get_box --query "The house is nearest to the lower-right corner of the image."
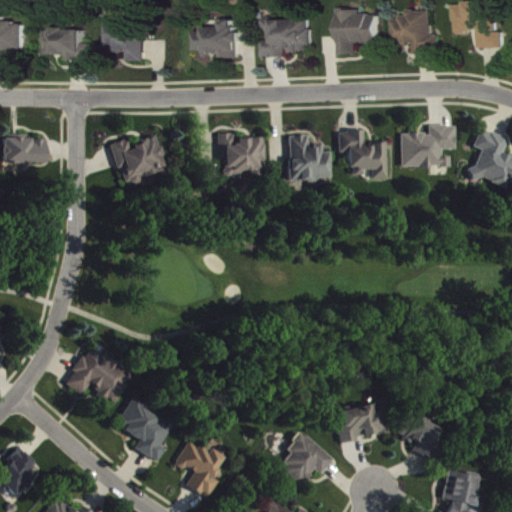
[444,469,486,512]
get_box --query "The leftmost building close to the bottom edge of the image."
[0,442,44,503]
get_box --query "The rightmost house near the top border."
[445,1,502,48]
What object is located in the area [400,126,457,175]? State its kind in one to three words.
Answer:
house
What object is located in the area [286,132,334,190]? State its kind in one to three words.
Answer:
house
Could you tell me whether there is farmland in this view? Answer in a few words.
No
